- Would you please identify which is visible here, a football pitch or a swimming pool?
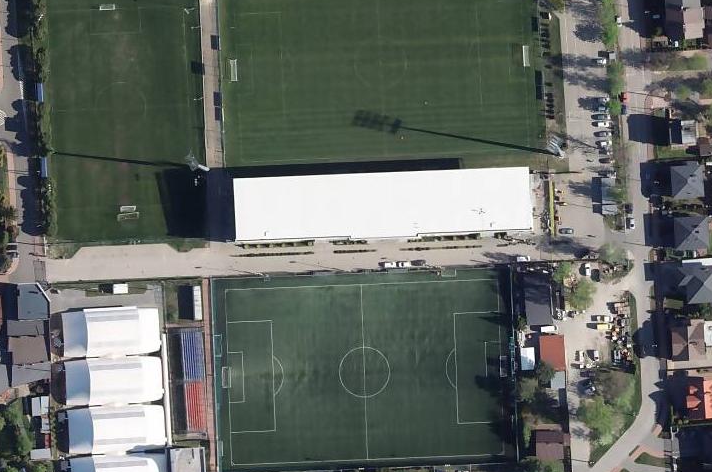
football pitch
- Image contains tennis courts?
No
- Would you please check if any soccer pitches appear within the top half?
Yes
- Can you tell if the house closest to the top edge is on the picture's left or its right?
right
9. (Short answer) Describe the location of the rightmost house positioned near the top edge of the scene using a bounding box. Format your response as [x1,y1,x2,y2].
[664,0,712,47]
